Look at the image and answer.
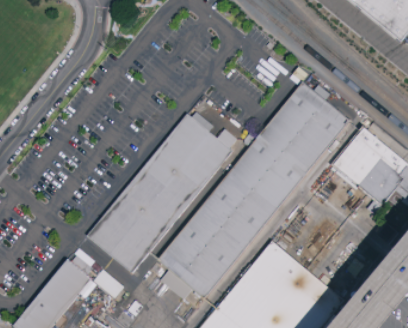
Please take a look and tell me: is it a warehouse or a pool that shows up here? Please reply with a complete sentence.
It is a warehouse that can be seen here.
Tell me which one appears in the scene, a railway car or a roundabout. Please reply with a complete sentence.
Looking from above, you can make out a railway car.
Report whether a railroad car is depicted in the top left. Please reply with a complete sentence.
No, the scene shows no railroad car in the top left.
